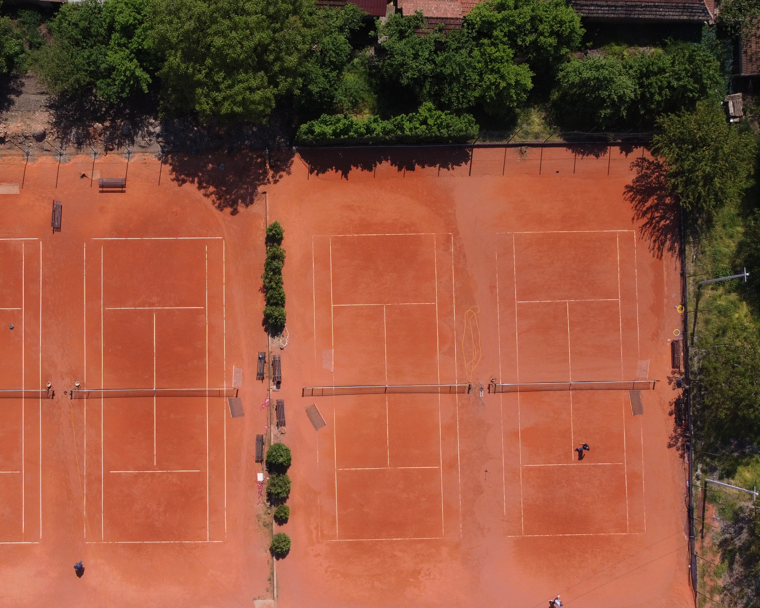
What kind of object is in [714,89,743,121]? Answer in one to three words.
shed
